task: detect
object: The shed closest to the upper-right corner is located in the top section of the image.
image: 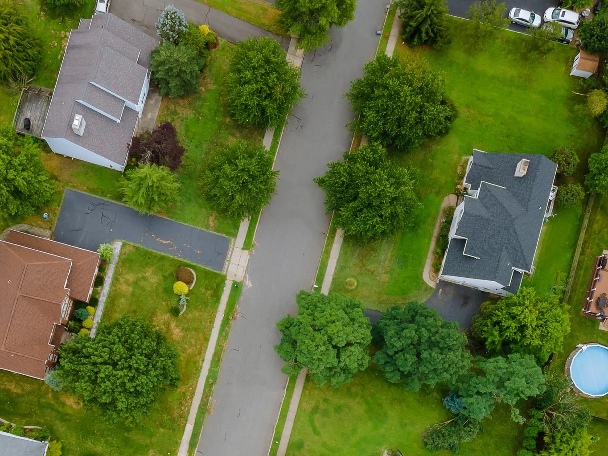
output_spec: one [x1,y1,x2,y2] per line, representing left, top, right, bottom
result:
[570,50,601,79]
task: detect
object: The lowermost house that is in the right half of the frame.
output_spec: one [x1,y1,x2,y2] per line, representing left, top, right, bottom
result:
[437,148,558,295]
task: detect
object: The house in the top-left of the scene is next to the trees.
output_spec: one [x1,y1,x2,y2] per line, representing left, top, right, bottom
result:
[41,11,162,171]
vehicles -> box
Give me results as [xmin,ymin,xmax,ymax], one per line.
[537,26,574,47]
[506,8,539,32]
[542,9,581,32]
[94,0,111,13]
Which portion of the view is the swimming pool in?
bottom right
